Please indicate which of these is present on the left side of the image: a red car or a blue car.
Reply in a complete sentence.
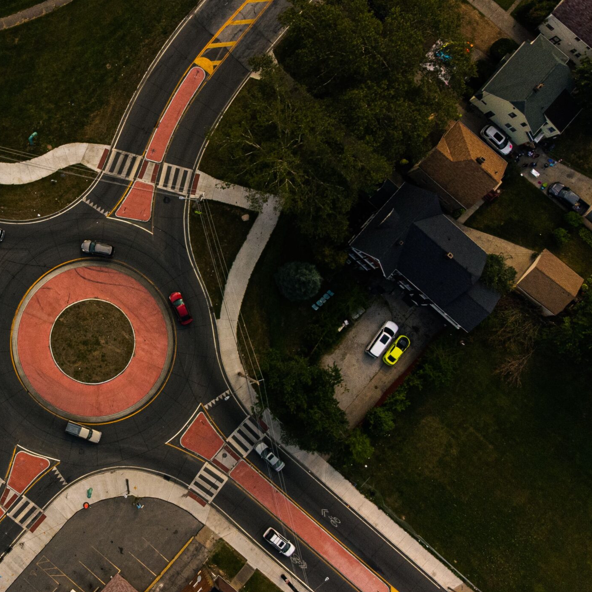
You can see a red car on the left side of the image.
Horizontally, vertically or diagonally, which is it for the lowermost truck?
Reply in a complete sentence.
From this overhead view, the lowermost truck appears to run diagonally.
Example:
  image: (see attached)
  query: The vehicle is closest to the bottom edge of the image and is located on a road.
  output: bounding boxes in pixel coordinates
[259,524,297,558]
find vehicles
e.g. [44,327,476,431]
[0,228,7,245]
[259,524,297,558]
[253,440,289,475]
[169,291,195,328]
[64,418,103,443]
[364,319,399,360]
[476,121,512,158]
[380,333,411,368]
[81,238,116,259]
[545,181,588,217]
